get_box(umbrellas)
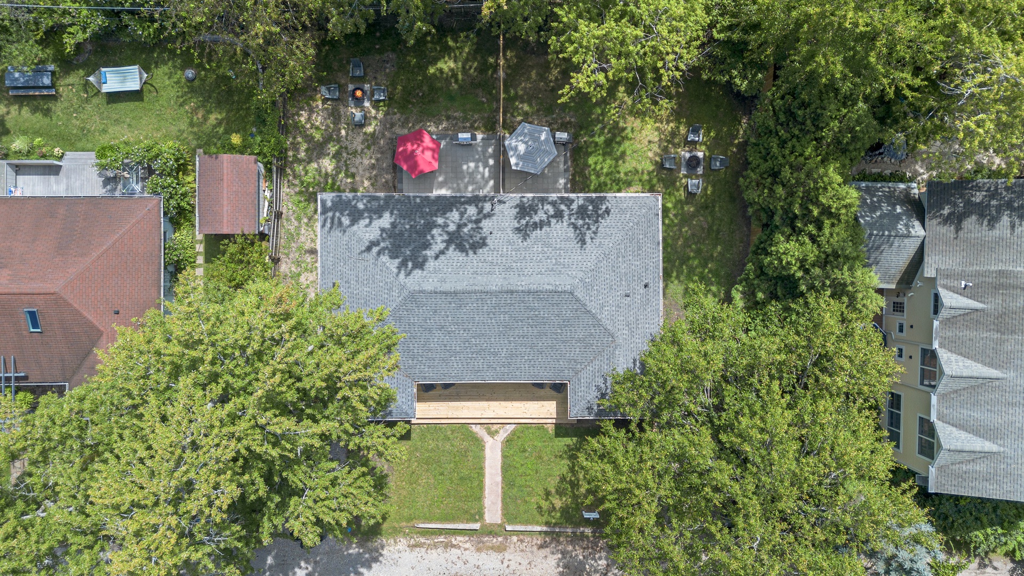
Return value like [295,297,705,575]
[394,129,442,179]
[505,124,557,175]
